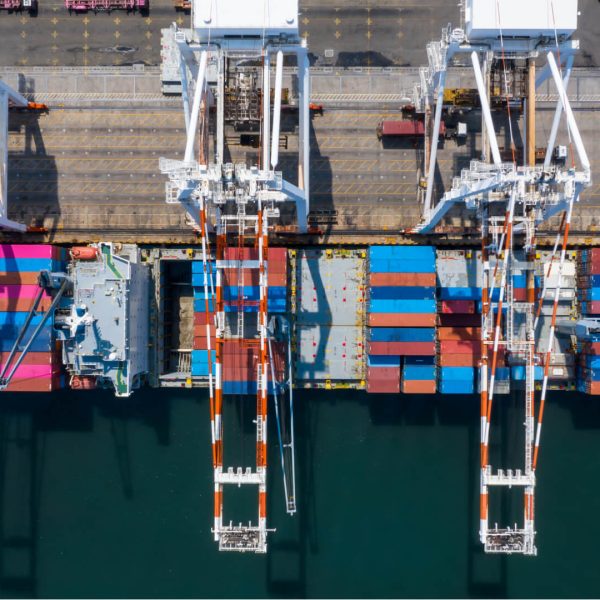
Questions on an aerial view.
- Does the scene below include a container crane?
Yes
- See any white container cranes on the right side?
Yes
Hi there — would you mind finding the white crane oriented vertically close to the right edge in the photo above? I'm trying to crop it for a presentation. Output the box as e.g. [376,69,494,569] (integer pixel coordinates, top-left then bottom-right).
[391,0,600,551]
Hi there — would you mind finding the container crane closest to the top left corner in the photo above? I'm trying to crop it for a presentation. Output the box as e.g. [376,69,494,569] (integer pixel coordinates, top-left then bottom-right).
[0,80,49,234]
